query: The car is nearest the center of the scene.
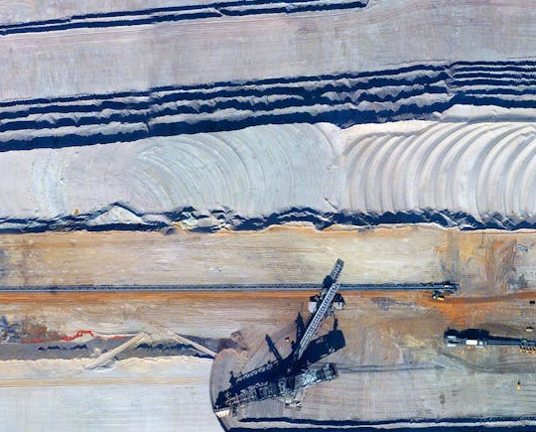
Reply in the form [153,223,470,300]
[308,288,344,310]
